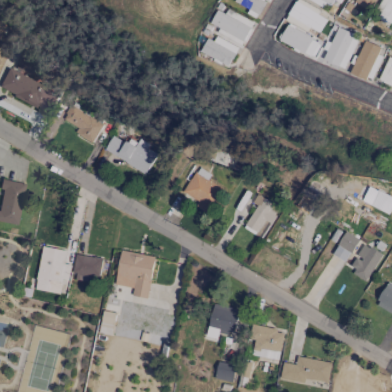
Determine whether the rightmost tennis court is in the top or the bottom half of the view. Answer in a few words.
bottom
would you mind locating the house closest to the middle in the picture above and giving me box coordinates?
[186,168,215,202]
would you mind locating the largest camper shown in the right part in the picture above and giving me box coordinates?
[237,192,253,212]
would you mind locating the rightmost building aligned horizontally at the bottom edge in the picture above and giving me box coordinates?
[281,360,333,388]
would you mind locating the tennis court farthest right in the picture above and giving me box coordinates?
[17,324,72,392]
